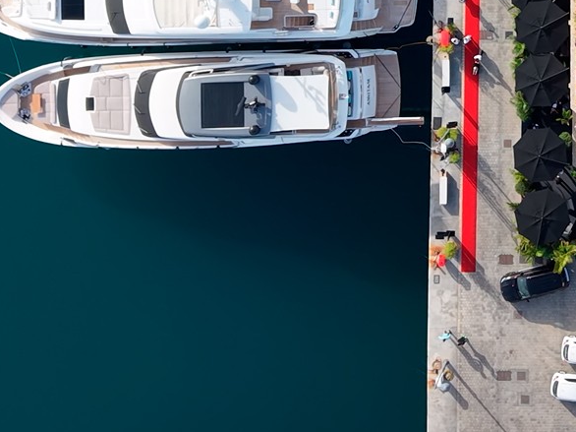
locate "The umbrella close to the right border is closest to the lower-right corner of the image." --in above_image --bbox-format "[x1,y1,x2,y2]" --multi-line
[515,192,569,245]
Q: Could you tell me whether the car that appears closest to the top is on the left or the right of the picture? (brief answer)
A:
right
